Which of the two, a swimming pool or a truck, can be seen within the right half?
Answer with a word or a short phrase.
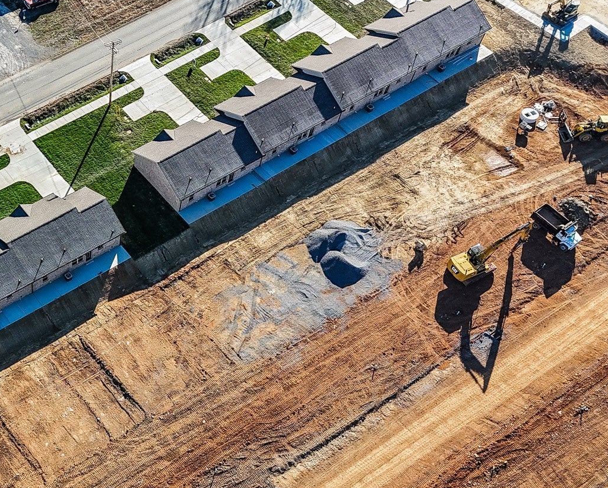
truck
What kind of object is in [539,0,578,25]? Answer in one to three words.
work vehicle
